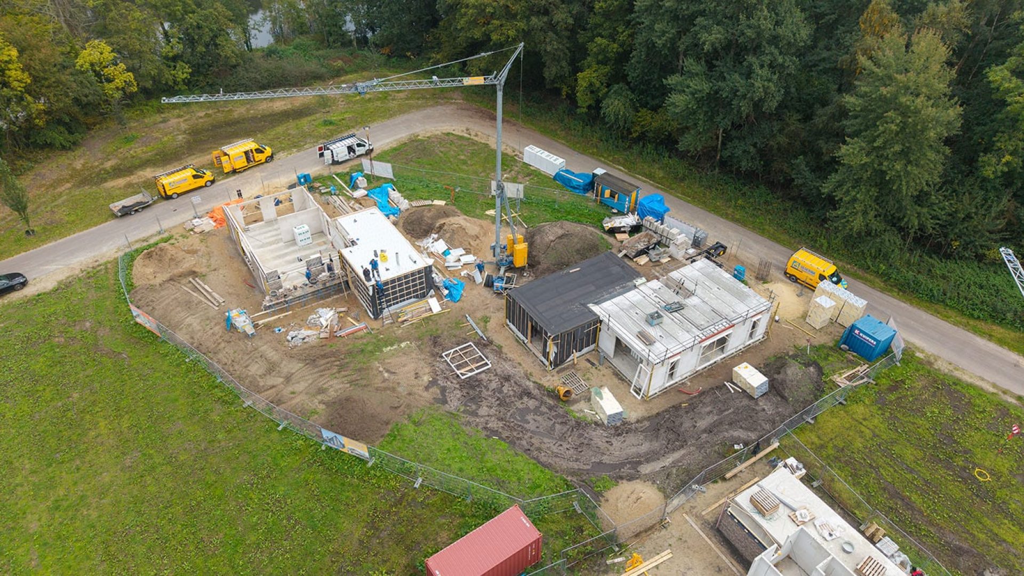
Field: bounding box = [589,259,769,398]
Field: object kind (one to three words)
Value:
house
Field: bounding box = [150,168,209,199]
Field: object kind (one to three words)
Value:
van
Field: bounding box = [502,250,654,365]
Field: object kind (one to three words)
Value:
house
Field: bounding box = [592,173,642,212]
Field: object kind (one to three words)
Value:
building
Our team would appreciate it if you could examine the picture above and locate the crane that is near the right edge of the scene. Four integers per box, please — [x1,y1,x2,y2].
[997,245,1024,310]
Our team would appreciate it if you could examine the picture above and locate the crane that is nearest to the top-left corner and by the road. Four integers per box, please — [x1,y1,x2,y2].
[158,43,528,292]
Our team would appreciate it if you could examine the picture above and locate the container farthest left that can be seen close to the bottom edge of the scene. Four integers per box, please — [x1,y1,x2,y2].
[425,504,541,576]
